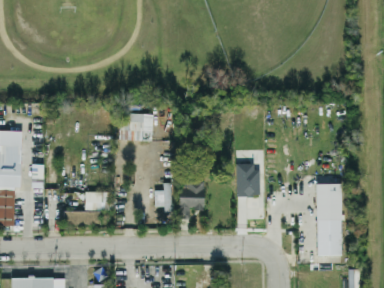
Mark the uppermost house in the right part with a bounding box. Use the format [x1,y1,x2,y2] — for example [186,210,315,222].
[236,162,260,197]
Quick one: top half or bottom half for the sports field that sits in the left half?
top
